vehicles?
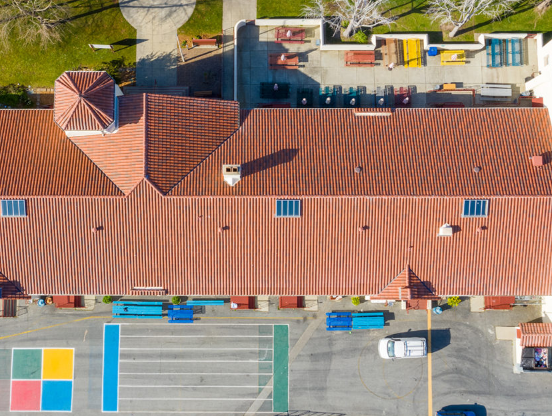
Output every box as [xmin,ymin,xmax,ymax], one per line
[378,337,429,360]
[434,409,476,416]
